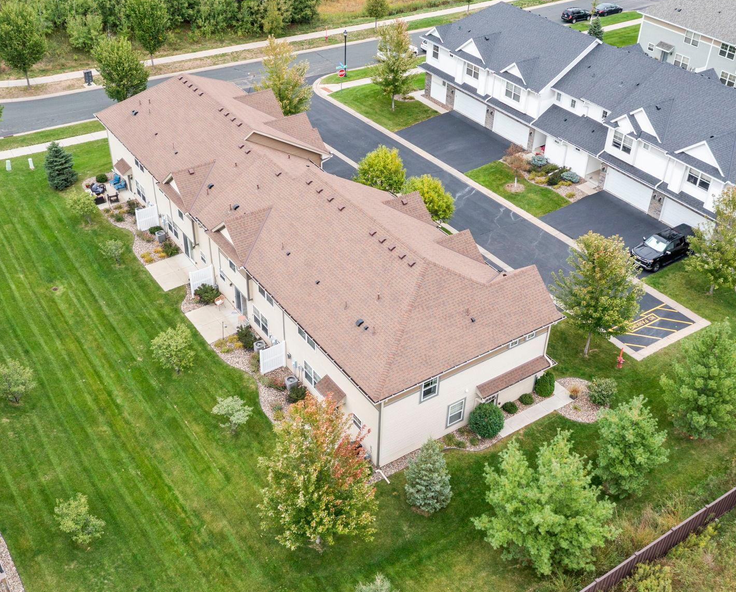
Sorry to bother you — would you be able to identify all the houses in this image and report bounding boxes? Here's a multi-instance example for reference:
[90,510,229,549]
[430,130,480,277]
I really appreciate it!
[97,74,572,483]
[414,1,736,259]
